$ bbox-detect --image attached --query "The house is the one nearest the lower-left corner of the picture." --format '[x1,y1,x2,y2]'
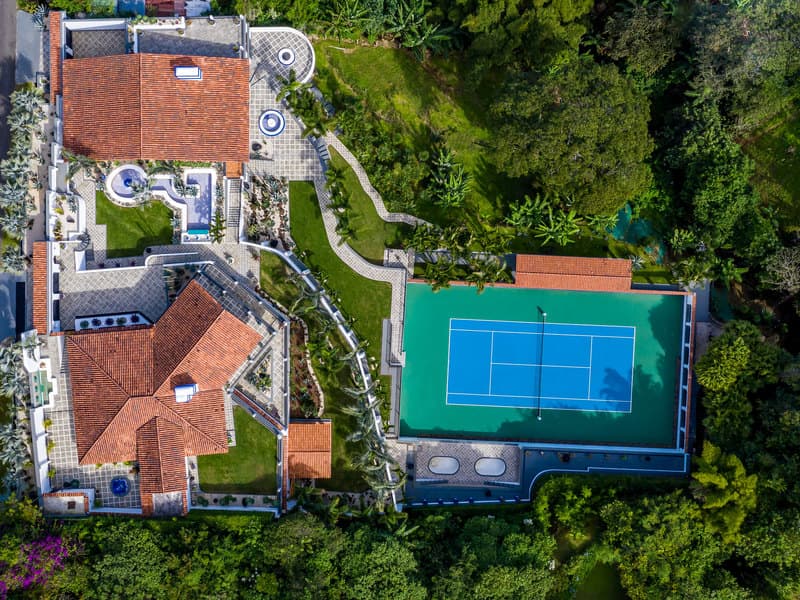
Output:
[64,278,263,517]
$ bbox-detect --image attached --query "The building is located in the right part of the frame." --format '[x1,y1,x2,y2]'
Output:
[513,254,632,292]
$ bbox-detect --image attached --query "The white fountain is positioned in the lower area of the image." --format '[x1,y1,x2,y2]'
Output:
[24,358,56,409]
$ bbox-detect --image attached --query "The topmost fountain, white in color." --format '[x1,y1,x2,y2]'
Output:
[277,48,296,67]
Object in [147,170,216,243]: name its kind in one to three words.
swimming pool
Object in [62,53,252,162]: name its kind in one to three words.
house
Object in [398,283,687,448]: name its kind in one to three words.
tennis court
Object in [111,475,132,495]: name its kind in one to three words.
fountain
